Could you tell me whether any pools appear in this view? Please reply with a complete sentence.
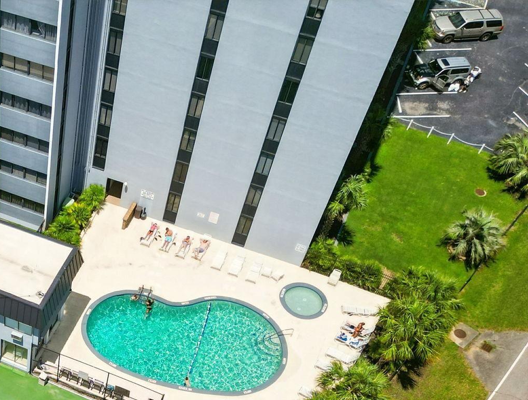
Yes, a pool appears in the view.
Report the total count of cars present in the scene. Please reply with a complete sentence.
There are 2 cars in the image.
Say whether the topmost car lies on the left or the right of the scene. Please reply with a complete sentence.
The topmost car is on the right side of the image.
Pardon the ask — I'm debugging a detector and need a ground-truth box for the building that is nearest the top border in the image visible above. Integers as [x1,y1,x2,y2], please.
[0,0,418,267]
